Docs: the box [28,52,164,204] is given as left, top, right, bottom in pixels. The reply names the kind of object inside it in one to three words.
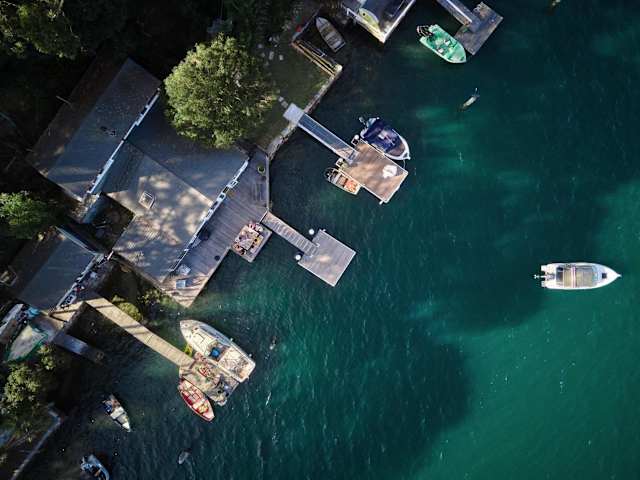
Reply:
house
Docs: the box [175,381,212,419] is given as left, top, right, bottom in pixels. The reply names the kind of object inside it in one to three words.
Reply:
boat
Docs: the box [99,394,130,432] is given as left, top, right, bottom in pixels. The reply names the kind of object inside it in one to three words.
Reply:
boat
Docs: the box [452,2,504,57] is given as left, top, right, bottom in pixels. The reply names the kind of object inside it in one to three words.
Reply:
pier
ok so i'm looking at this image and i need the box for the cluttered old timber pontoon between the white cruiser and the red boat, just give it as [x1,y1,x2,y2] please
[178,353,241,405]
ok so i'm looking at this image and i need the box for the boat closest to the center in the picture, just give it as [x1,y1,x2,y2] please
[322,166,359,194]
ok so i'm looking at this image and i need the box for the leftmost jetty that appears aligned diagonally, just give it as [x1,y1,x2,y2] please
[76,293,194,367]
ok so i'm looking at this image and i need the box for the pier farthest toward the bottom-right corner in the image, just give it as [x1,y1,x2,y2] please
[298,229,357,288]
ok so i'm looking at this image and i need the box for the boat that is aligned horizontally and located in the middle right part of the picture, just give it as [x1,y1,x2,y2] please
[529,262,625,290]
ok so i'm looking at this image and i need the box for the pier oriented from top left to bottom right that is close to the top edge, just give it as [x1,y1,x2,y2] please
[435,0,481,32]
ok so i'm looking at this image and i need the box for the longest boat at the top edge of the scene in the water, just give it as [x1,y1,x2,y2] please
[414,23,469,64]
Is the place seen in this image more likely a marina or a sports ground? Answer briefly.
marina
